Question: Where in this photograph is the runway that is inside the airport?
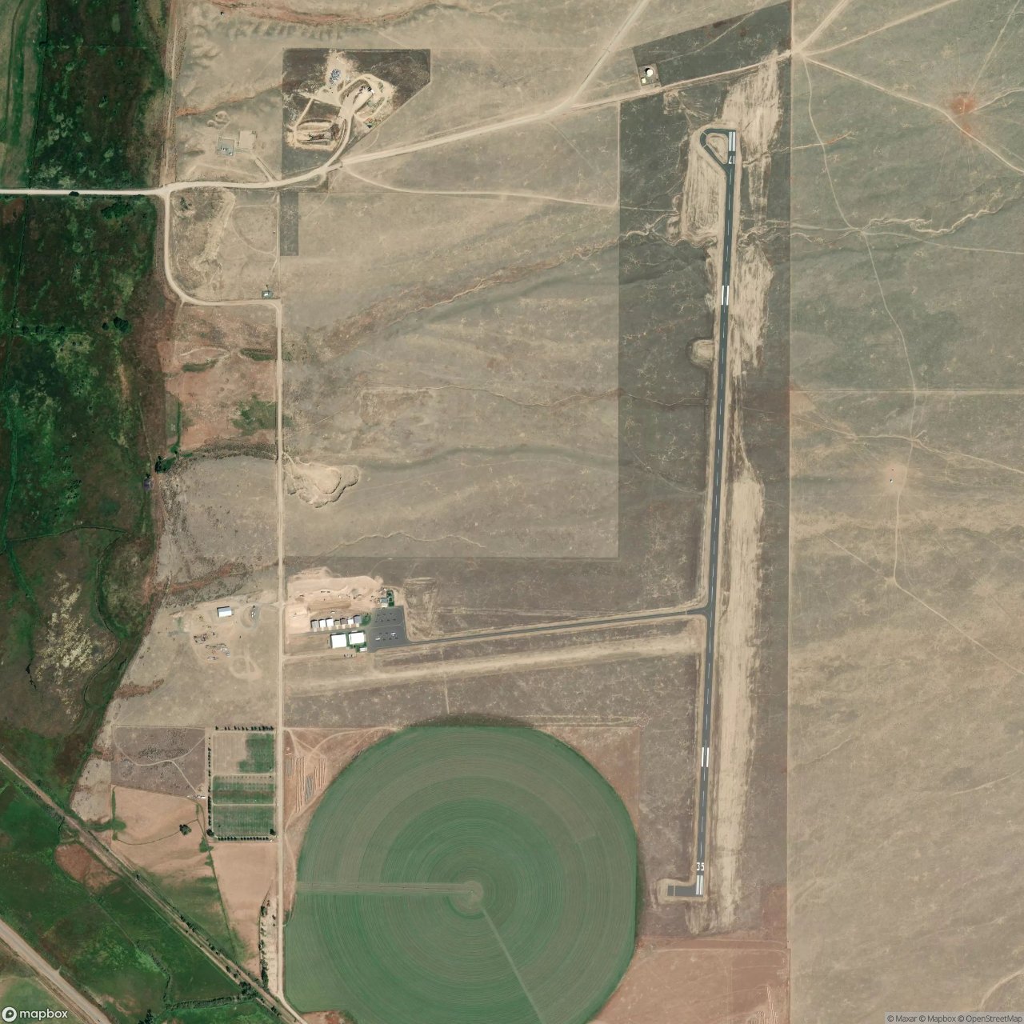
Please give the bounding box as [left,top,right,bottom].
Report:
[696,130,736,897]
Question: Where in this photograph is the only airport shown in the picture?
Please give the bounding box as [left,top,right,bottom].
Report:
[367,129,736,897]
